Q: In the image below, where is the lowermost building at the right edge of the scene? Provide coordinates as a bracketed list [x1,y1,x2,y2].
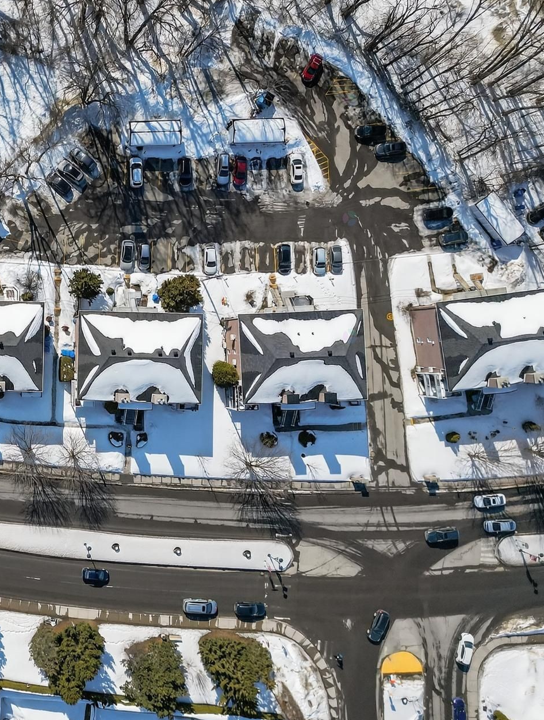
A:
[416,290,544,412]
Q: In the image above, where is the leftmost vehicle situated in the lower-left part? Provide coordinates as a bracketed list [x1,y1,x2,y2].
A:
[81,568,109,583]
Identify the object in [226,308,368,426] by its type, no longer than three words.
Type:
house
